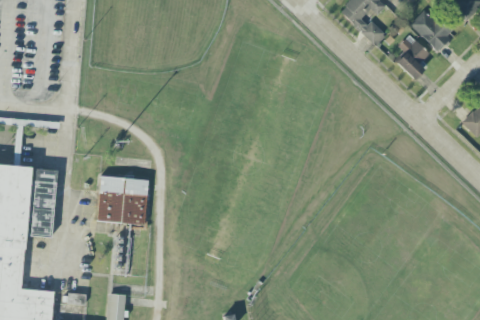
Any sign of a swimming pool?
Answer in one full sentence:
No, the photo shows no swimming pool.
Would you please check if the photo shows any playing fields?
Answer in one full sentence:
Yes, looking at the shot, I can spot a playing field.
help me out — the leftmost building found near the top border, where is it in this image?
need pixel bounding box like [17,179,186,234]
[341,0,390,46]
